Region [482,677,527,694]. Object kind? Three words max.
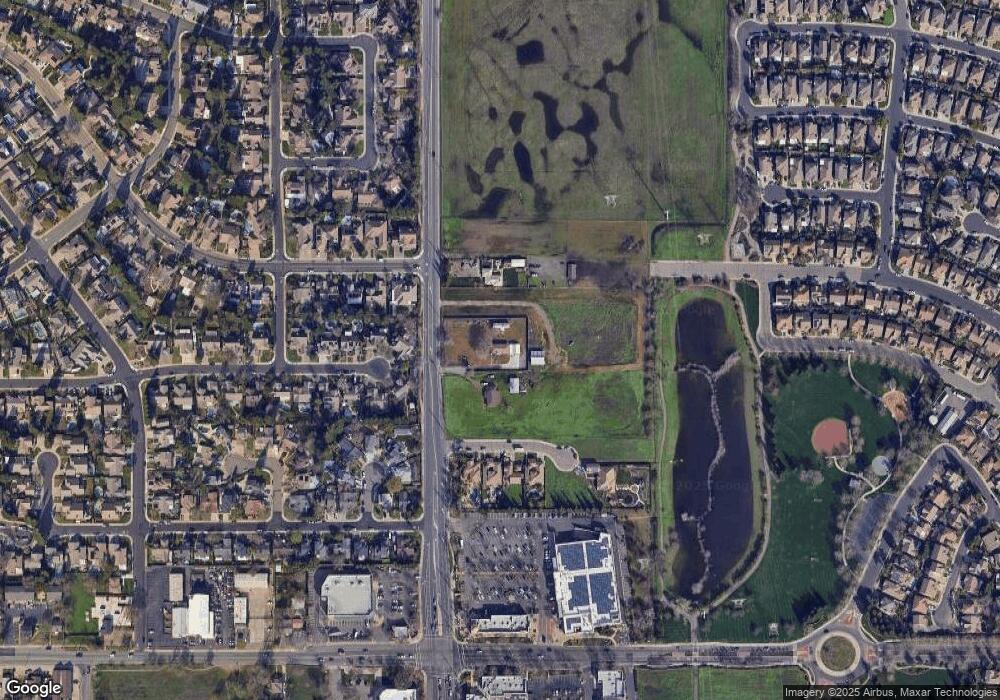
building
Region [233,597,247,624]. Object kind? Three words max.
building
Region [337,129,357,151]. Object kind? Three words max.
house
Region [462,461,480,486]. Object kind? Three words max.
house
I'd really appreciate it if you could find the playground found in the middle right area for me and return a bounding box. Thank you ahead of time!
[881,390,909,423]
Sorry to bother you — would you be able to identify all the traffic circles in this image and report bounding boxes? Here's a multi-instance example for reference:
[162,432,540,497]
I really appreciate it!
[798,610,876,690]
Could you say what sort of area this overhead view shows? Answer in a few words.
residential area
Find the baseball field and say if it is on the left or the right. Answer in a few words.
right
